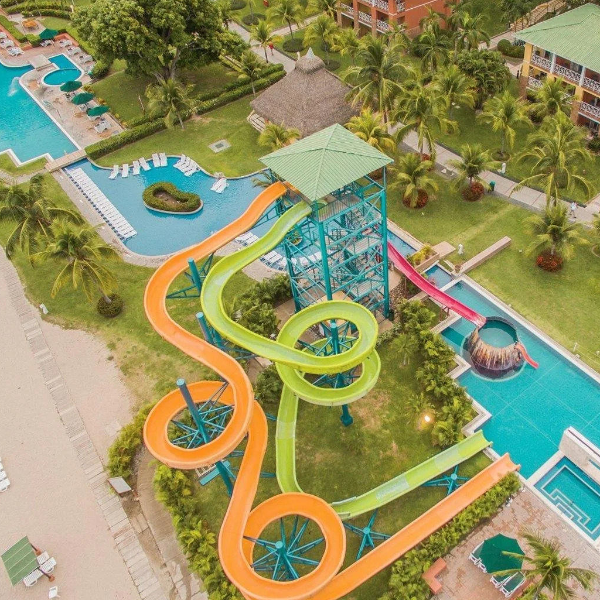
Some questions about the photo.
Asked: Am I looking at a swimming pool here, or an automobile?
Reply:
swimming pool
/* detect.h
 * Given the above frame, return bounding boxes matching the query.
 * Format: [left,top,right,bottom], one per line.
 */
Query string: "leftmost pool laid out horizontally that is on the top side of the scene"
[67,157,421,275]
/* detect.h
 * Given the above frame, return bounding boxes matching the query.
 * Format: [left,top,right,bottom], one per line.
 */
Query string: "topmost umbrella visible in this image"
[38,30,61,46]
